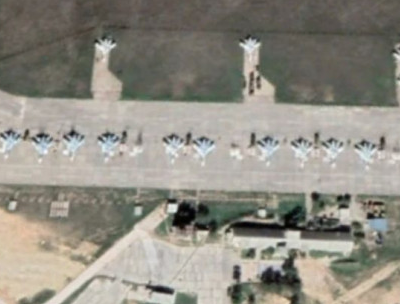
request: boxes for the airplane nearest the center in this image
[194,138,215,164]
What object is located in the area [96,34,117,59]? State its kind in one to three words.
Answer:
airplane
